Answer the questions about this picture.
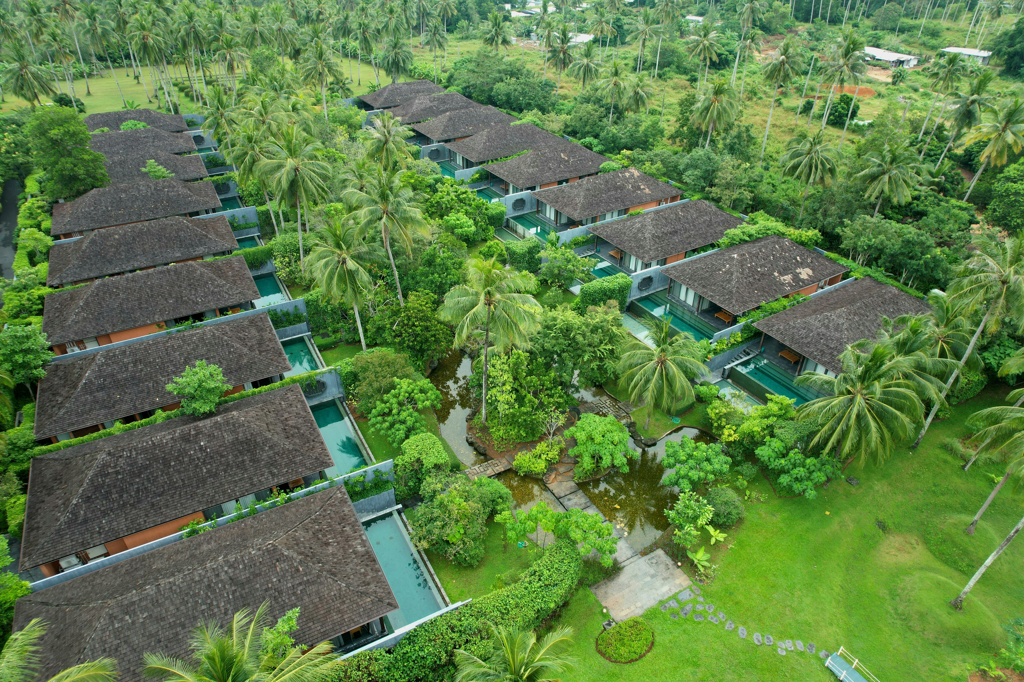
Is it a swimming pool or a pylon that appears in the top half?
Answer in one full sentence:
The one visible in the top half is a swimming pool.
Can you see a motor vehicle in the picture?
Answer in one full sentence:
No, this view has no motor vehicle in it.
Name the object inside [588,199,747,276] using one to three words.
house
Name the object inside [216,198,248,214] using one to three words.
swimming pool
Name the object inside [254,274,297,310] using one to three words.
swimming pool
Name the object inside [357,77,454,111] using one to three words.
house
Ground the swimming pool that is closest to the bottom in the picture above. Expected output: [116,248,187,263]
[364,513,454,633]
